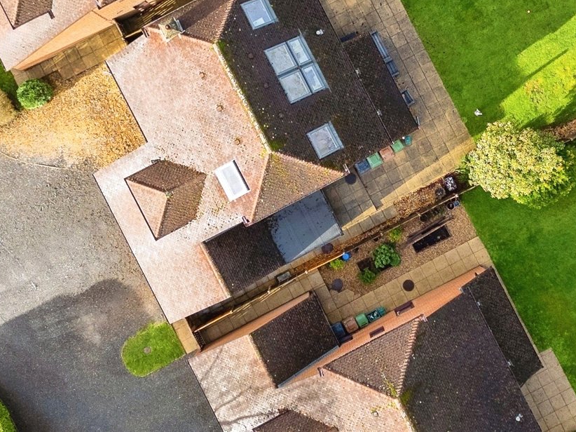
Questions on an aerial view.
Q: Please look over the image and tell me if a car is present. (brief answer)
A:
No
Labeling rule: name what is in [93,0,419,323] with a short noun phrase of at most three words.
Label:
house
